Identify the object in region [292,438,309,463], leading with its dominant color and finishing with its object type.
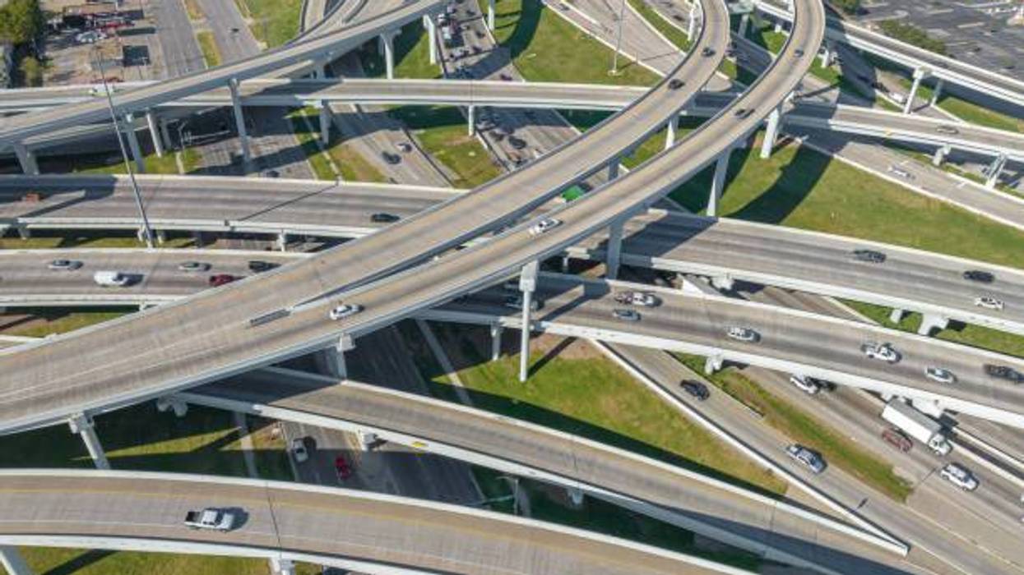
gray car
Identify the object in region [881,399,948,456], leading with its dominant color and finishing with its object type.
white truck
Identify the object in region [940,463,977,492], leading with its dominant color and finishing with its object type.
white car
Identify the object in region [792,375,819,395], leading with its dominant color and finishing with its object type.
white car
